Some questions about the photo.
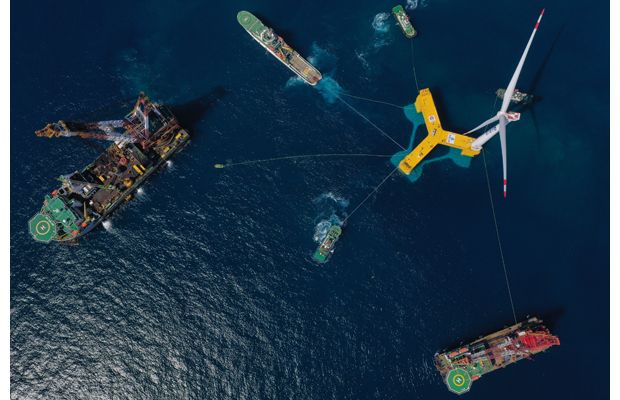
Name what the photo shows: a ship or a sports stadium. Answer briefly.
ship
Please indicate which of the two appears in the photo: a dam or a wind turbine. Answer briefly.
wind turbine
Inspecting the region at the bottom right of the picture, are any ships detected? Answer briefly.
Yes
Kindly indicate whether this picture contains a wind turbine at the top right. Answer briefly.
Yes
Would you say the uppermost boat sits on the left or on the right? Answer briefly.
right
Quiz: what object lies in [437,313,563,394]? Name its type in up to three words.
ship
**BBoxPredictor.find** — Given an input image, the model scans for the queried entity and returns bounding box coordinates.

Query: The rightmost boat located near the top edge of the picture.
[393,6,417,42]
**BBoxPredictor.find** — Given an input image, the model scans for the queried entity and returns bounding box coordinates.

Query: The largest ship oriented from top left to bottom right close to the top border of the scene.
[233,11,323,91]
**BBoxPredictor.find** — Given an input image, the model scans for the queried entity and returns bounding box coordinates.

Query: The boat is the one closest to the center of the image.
[314,223,342,263]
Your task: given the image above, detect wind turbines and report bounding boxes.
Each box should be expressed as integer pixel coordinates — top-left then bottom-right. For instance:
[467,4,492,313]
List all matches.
[390,10,542,195]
